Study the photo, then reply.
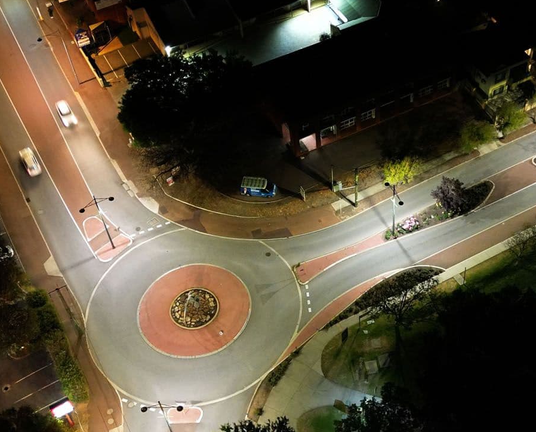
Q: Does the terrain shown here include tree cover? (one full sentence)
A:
Yes, some tree cover is visible.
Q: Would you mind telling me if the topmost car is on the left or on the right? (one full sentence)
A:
The topmost car appears in the left half of the scene.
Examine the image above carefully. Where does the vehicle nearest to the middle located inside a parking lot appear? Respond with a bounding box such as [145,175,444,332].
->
[239,173,278,195]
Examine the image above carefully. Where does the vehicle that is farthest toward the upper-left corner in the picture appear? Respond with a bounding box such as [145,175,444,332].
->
[56,101,77,127]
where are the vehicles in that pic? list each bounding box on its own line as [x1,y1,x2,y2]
[56,101,77,127]
[239,173,278,195]
[18,149,42,177]
[0,244,15,261]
